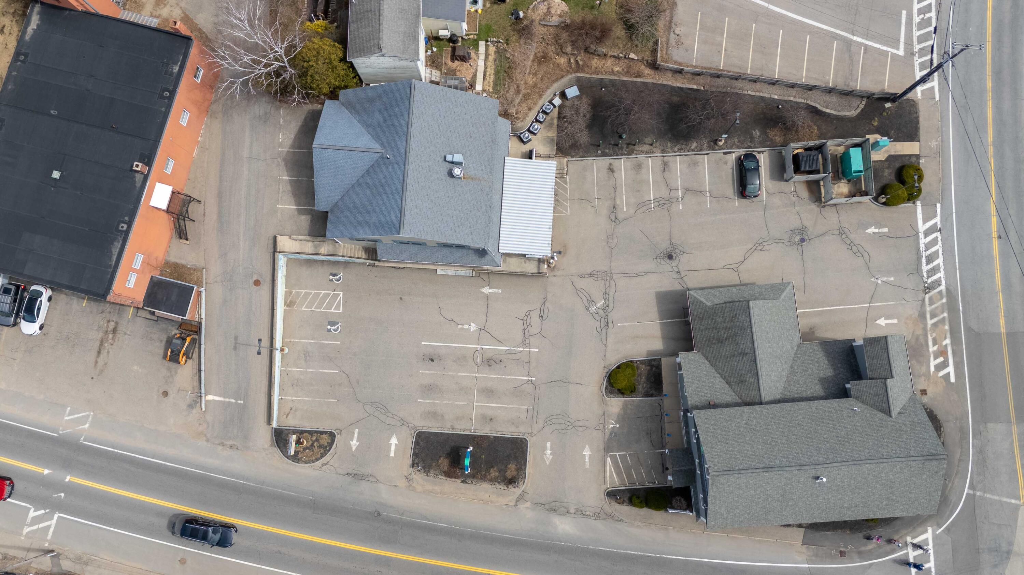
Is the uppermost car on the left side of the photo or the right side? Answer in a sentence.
The uppermost car appears in the right half of the scene.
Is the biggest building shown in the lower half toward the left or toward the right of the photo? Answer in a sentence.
It is on the right.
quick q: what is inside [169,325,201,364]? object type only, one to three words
work vehicle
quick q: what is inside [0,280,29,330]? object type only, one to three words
car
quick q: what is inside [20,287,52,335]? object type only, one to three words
car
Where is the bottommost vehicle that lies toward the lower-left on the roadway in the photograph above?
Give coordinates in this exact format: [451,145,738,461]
[180,516,236,548]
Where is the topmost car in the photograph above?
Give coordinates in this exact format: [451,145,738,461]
[738,153,761,196]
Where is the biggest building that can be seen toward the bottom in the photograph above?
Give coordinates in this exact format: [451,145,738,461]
[660,280,948,532]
